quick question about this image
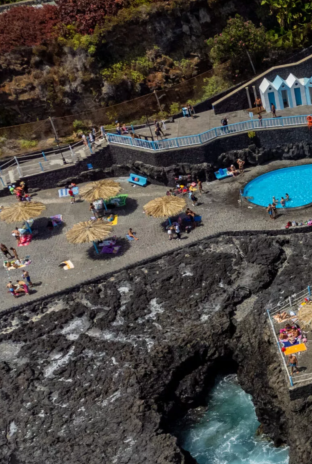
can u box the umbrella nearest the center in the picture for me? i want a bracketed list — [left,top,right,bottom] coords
[144,196,182,227]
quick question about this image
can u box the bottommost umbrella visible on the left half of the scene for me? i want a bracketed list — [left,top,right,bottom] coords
[68,222,110,255]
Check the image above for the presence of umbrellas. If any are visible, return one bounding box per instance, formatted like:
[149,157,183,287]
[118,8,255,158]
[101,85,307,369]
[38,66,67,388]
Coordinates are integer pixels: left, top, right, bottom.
[1,204,42,235]
[144,196,182,227]
[68,222,110,255]
[297,302,312,328]
[80,181,116,212]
